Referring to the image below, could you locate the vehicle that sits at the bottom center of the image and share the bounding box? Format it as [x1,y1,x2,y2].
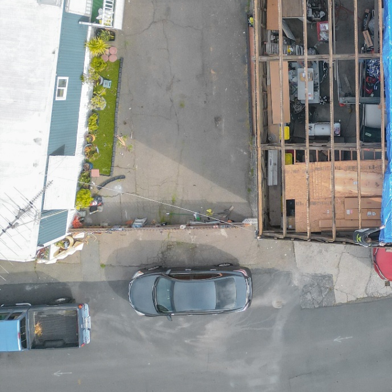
[129,263,253,322]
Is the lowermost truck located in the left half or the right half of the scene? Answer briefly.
left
